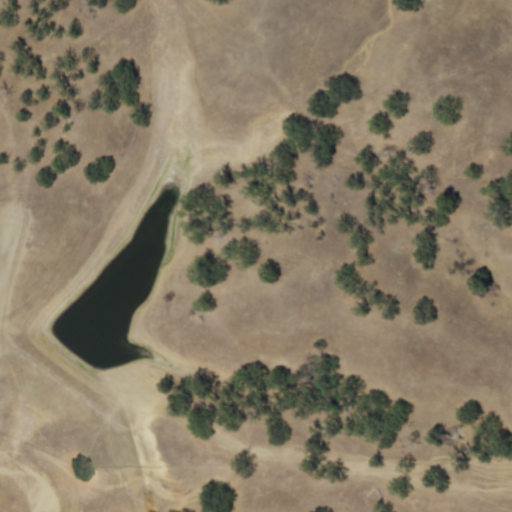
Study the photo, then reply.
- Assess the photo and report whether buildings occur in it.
No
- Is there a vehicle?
No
